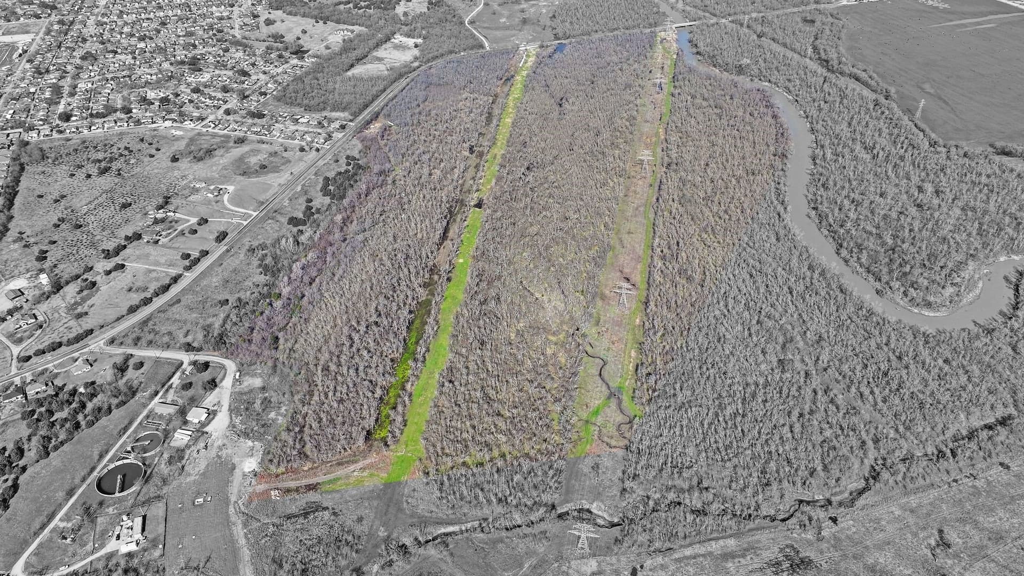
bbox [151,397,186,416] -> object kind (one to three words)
building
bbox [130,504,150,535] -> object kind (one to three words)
building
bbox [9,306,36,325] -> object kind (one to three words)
house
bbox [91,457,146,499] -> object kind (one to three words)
storage tank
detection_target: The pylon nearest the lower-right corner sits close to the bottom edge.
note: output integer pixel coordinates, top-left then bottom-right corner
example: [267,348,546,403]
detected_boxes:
[568,518,602,563]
